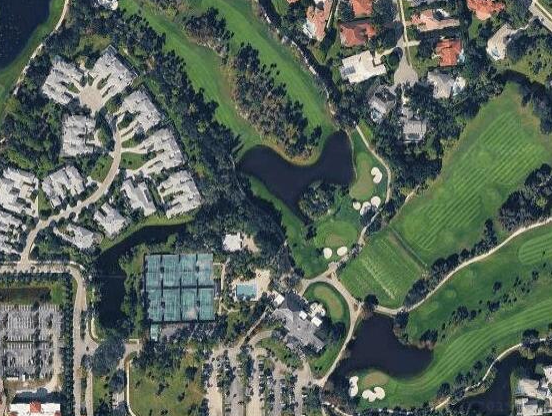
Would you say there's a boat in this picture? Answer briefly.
No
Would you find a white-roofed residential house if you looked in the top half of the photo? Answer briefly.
Yes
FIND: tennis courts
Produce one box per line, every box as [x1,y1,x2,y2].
[144,253,162,287]
[196,253,215,287]
[147,288,165,321]
[164,288,183,321]
[199,288,217,321]
[182,288,199,321]
[161,253,180,287]
[180,253,197,287]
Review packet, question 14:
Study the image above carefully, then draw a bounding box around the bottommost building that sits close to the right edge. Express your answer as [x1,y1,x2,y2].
[519,395,544,414]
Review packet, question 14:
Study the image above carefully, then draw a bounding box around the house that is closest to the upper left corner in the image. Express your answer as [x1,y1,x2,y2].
[37,57,87,104]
